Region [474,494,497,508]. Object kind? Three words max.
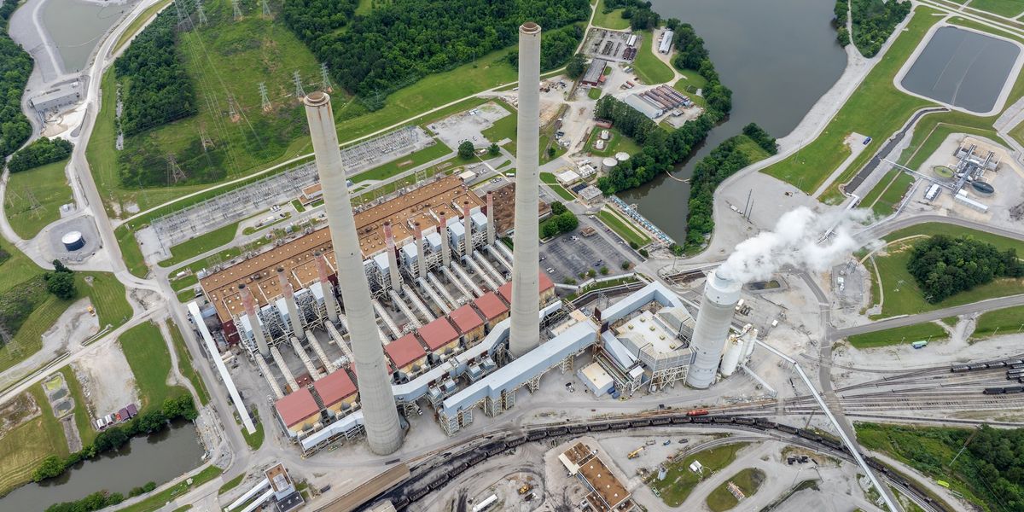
vehicle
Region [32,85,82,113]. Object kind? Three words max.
shed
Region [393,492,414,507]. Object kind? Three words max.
rail car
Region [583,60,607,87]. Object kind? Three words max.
building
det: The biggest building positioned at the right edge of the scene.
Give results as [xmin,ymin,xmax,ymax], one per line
[949,145,998,196]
